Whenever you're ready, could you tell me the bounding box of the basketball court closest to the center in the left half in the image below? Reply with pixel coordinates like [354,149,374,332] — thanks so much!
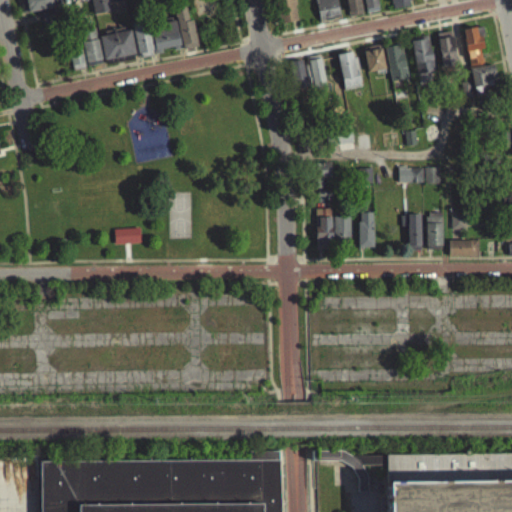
[170,192,192,238]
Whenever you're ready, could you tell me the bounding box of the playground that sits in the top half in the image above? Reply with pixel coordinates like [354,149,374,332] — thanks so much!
[128,104,172,163]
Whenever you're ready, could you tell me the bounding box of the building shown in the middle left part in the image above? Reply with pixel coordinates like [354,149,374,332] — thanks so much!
[114,228,142,244]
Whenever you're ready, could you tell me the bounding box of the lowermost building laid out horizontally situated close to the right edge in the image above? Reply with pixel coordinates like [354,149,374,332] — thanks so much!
[388,455,512,512]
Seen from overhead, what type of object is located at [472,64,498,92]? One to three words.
shed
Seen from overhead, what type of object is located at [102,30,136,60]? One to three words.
house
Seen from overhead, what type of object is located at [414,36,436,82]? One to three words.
house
